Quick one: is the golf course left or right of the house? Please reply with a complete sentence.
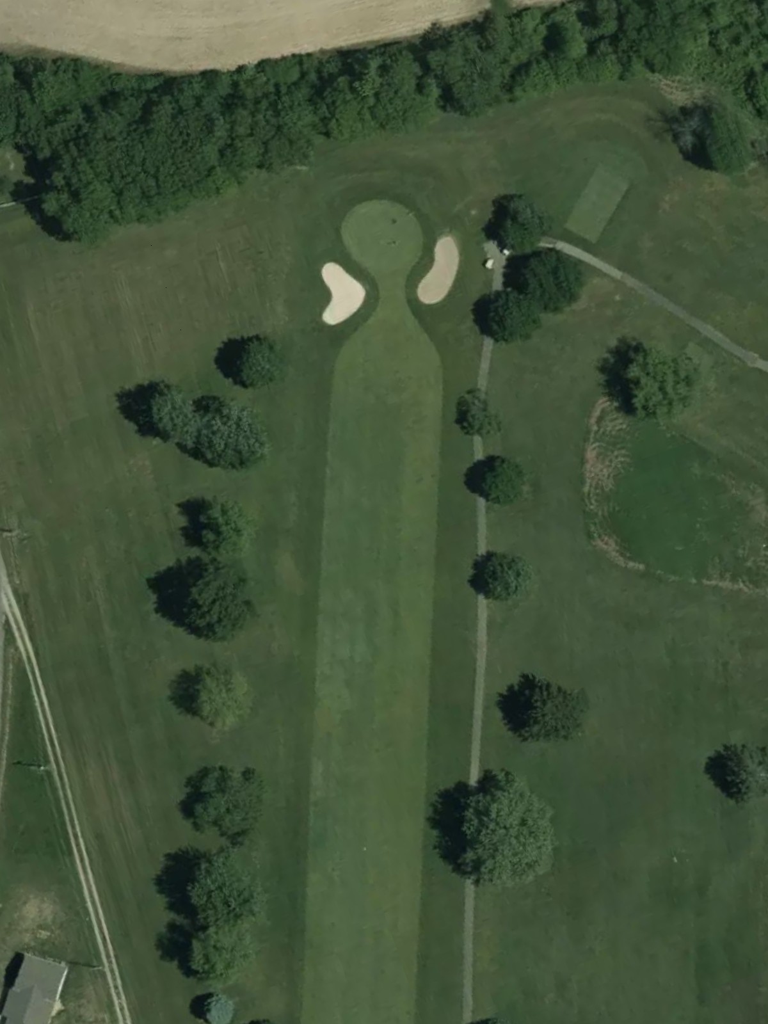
The golf course is to the right of the house.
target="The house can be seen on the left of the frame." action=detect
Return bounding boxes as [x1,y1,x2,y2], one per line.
[3,953,68,1024]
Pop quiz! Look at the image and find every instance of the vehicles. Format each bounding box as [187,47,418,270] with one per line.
[485,257,494,269]
[502,246,511,256]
